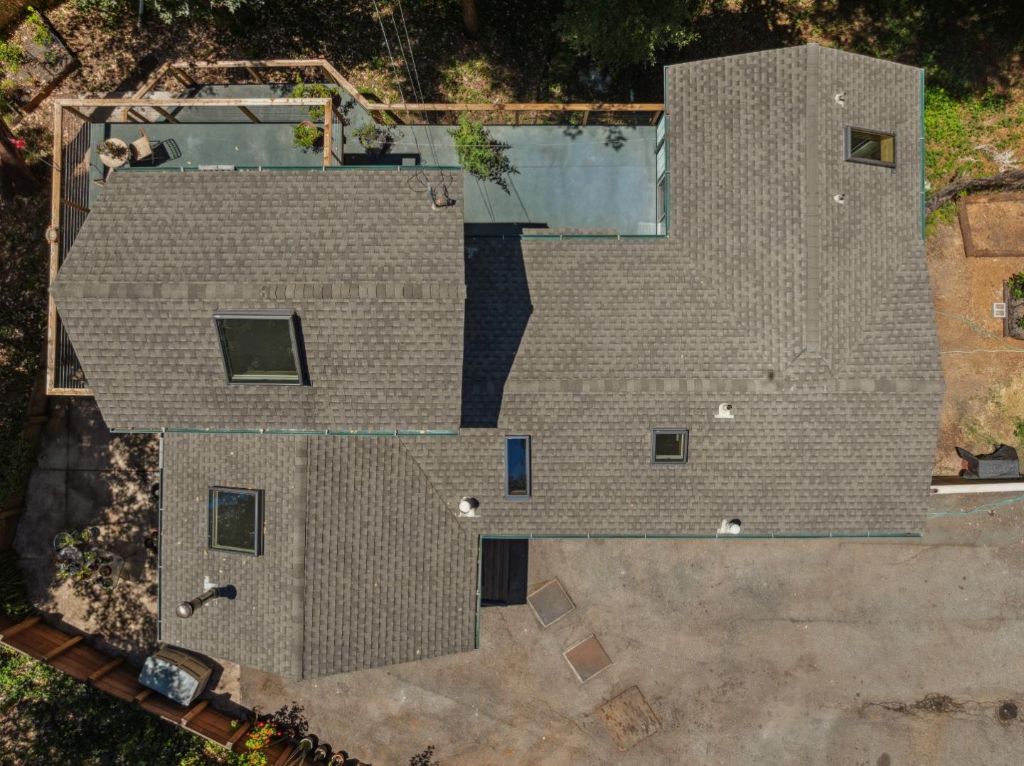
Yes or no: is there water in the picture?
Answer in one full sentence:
No, the scene doesn't show any water.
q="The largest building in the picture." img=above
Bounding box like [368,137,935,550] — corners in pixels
[52,42,950,678]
